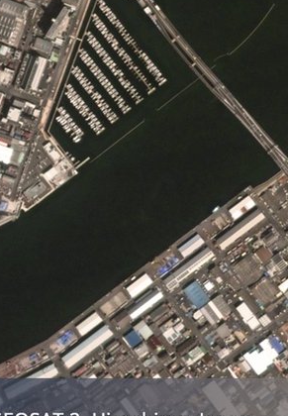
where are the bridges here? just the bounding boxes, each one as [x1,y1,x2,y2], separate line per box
[151,0,288,177]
